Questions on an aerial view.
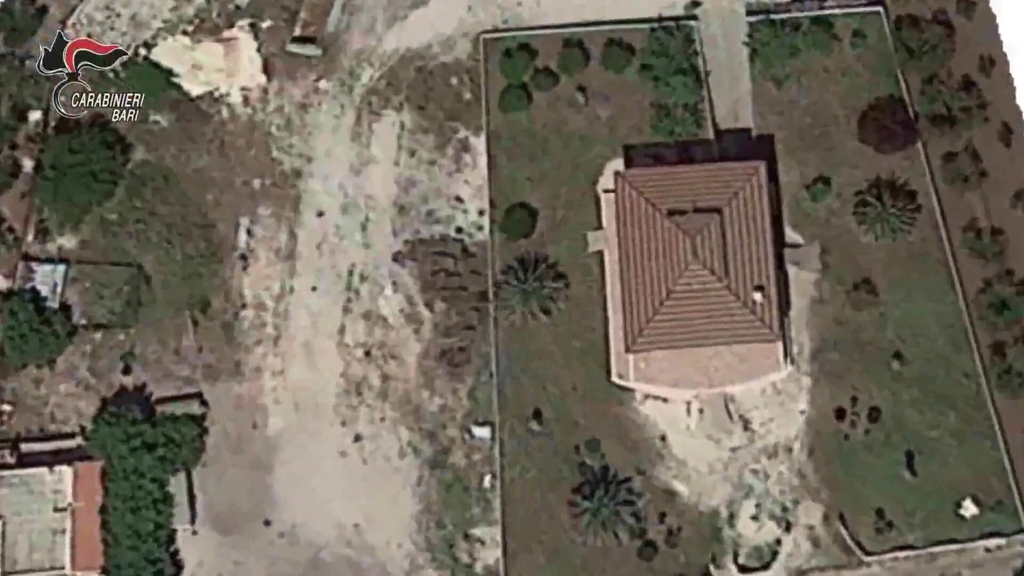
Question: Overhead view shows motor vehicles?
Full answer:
No, the frame has no motor vehicle in it.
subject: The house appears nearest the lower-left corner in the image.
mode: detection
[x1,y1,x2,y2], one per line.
[0,461,104,576]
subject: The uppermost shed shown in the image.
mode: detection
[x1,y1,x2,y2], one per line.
[293,0,331,39]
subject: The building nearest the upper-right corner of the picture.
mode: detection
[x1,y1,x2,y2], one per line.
[587,160,817,398]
